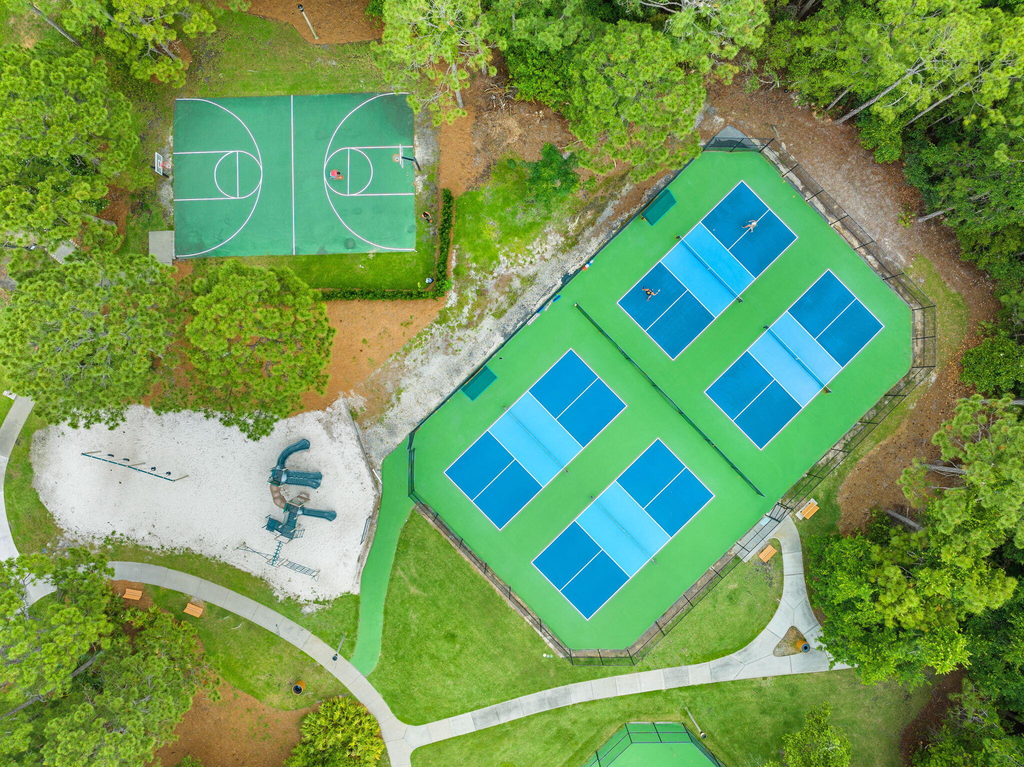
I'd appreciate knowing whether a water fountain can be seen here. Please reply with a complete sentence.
No, there's no water fountain here.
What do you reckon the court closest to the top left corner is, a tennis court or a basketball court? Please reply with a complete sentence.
The court closest to the top left corner appears to be a basketball court.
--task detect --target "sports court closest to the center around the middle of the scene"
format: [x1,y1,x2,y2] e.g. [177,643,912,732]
[442,347,629,532]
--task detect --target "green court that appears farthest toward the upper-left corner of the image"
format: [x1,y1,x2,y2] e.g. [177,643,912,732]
[173,91,417,260]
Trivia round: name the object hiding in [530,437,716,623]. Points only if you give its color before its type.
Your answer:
blue sports court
